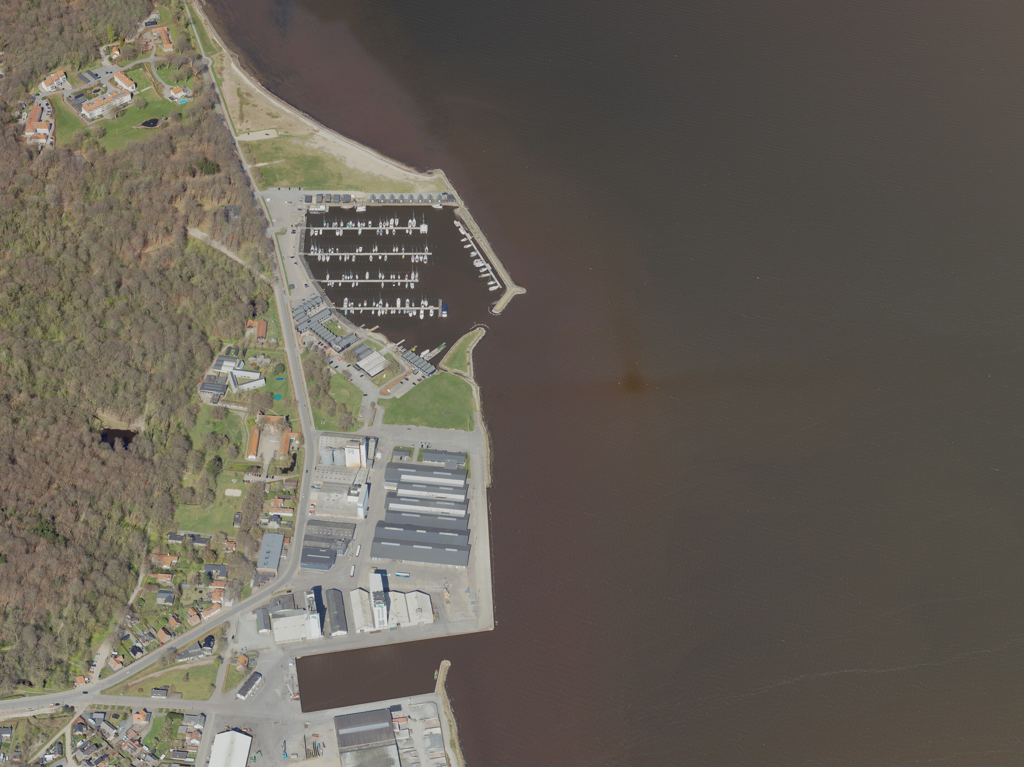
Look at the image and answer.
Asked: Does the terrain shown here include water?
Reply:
Yes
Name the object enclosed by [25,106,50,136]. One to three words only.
building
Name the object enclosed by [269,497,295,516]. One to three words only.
house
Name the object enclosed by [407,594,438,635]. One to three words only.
building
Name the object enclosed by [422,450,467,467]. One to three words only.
house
